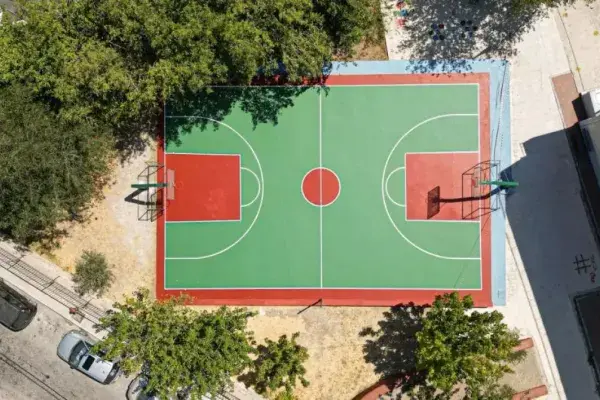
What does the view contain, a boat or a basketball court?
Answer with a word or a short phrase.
basketball court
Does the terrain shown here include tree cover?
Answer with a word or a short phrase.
Yes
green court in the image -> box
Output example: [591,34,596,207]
[156,61,510,307]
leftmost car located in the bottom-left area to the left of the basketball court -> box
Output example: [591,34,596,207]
[0,275,39,328]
